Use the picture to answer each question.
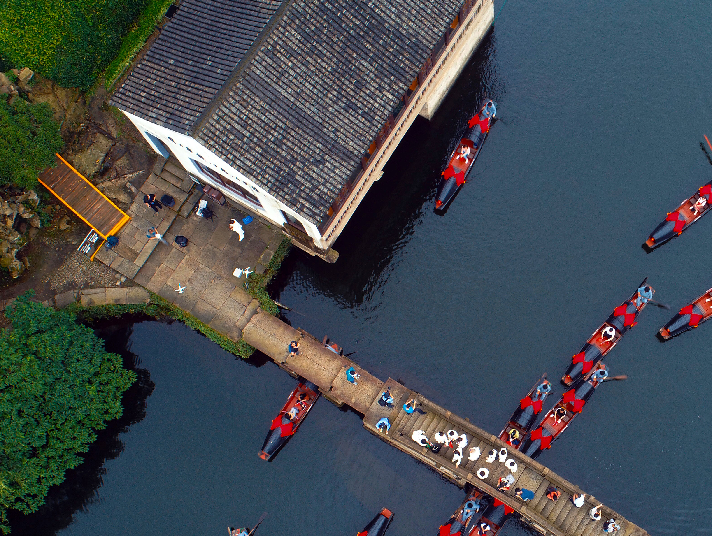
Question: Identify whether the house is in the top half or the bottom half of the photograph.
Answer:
top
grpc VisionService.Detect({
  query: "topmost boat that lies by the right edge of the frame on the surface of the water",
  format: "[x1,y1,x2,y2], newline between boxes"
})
[641,180,712,252]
